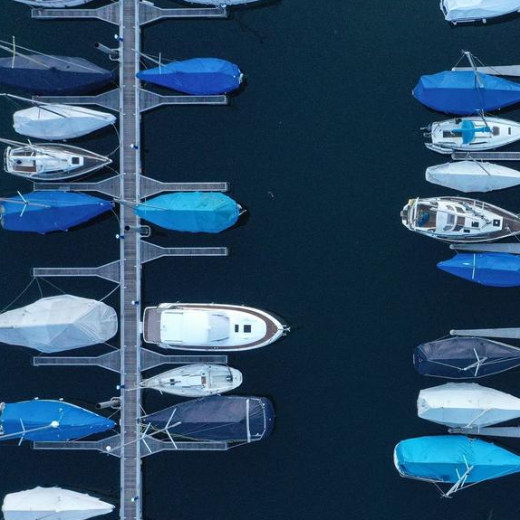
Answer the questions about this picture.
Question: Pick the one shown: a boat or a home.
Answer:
boat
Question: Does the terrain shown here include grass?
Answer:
No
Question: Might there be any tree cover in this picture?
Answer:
No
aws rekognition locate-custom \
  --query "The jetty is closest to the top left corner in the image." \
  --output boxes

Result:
[32,1,120,25]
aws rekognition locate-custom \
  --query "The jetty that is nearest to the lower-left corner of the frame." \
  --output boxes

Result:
[32,435,120,458]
